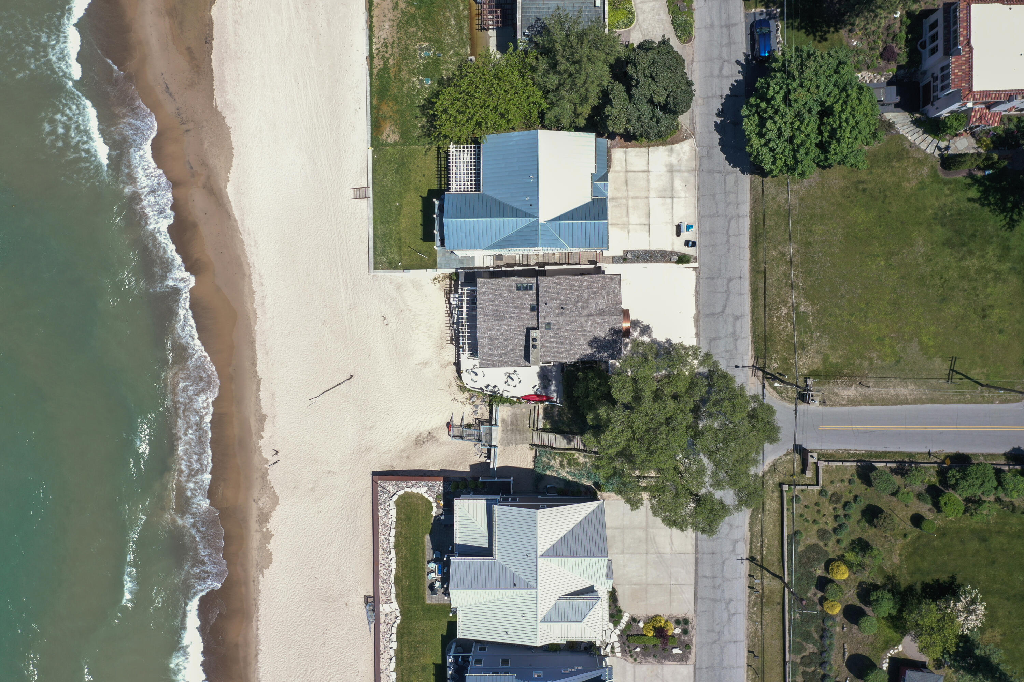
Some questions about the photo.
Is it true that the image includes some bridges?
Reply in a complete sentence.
No, I can't see a single bridge in this photo.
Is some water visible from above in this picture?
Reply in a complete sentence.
Yes, there's water in this view.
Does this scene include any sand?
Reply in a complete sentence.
Yes, the picture does contain sand.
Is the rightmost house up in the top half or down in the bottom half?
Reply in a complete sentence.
Seen from above, the rightmost house lies in the top half of the view.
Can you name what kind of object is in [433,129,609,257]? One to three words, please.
house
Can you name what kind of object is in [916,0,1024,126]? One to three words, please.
house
